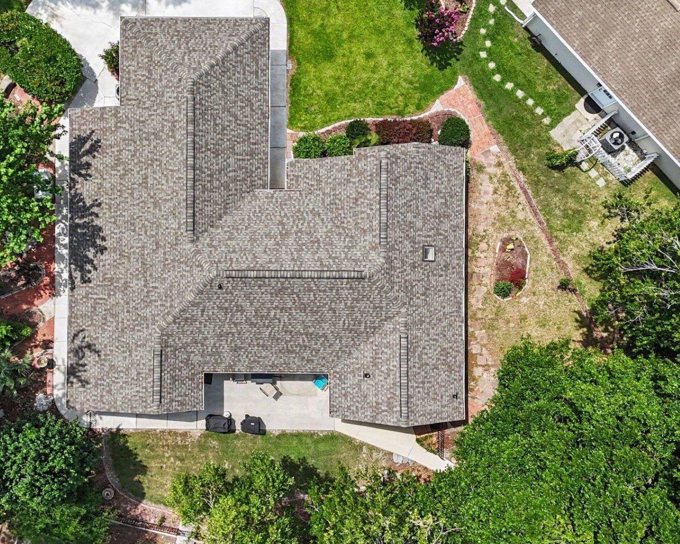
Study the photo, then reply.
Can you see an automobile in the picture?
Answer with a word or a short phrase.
No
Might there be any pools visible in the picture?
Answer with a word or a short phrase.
No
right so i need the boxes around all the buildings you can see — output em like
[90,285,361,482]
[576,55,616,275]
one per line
[66,17,465,428]
[513,0,680,186]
